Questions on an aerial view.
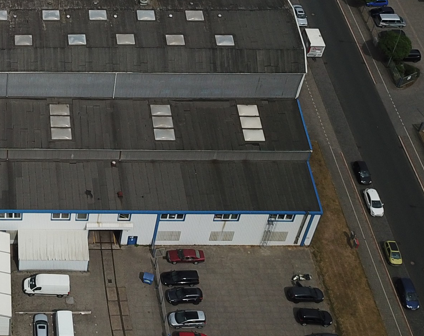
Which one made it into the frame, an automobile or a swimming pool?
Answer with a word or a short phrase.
automobile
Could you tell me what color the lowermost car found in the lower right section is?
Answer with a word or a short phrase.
black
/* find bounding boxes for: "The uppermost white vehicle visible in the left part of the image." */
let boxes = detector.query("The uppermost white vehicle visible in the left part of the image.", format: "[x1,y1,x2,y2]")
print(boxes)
[23,267,72,293]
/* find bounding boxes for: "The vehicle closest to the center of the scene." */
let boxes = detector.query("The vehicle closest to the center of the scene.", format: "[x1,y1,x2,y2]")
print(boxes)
[166,247,204,264]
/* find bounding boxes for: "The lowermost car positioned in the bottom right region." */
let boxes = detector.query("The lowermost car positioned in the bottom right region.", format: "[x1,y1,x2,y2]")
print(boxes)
[292,307,334,327]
